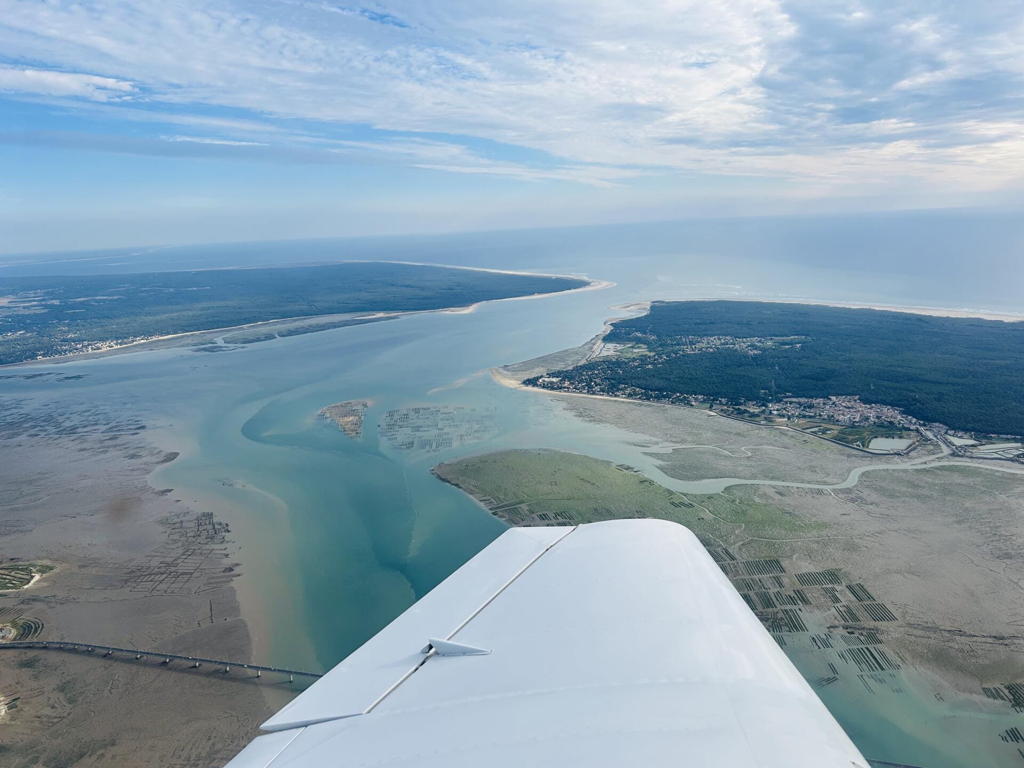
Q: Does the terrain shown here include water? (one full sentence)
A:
Yes, some water is visible.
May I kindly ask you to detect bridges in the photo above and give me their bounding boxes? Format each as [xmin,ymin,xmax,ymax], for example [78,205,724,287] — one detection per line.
[0,640,326,682]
